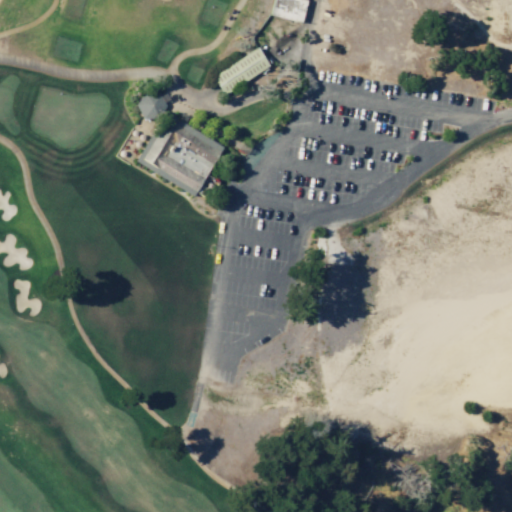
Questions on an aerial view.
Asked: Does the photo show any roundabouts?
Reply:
No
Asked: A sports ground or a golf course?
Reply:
golf course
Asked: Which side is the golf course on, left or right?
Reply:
left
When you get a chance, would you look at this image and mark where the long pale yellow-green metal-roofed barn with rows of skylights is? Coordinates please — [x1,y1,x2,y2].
[220,48,270,93]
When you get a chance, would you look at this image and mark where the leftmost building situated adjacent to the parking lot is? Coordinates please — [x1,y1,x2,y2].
[138,122,224,195]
